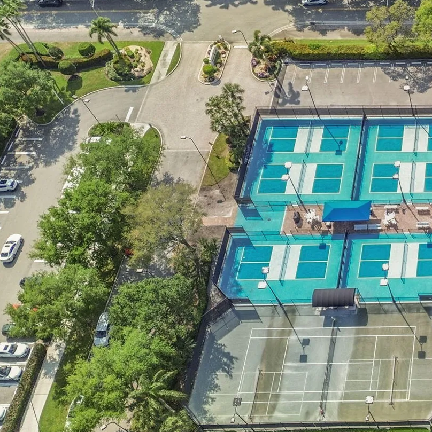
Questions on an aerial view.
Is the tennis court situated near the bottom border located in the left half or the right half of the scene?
right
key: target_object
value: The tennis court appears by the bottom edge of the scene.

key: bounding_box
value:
[189,303,432,426]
